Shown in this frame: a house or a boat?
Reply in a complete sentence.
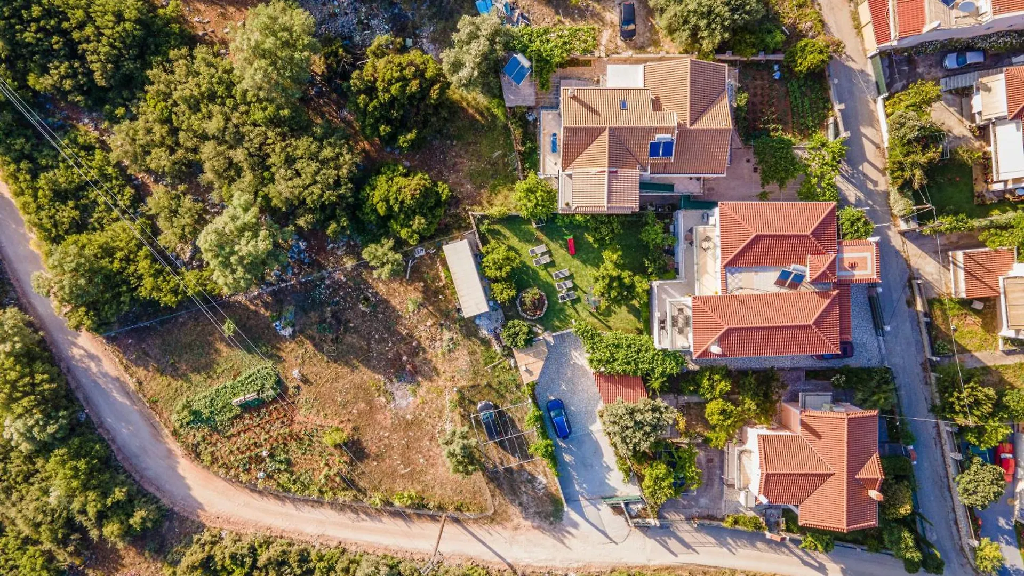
The one in the frame is a house.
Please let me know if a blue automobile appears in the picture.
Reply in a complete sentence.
Yes, a blue automobile is visible in the scene.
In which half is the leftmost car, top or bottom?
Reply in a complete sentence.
The leftmost car sits in the bottom half of the picture.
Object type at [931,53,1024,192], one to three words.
house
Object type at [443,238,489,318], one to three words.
shed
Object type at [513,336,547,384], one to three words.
shed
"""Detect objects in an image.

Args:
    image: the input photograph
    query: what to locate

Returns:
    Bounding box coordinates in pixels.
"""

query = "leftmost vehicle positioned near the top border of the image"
[618,0,639,45]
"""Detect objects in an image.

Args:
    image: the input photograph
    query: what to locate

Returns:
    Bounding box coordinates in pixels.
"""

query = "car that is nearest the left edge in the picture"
[478,399,503,445]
